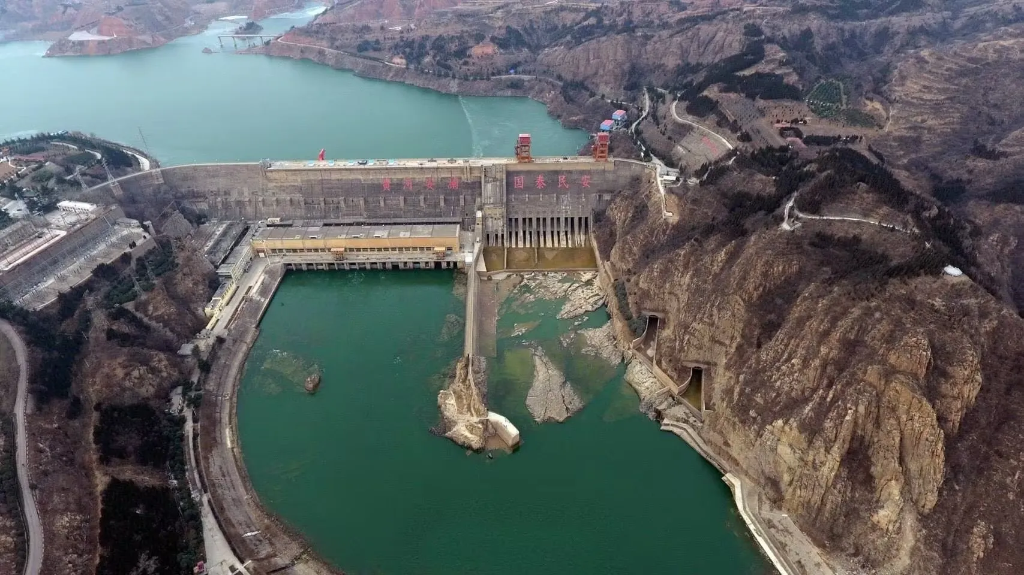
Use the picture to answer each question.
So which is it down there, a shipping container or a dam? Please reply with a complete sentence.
The one in the frame is a dam.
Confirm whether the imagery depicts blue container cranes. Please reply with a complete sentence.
No, I can't see a single blue container crane in this photo.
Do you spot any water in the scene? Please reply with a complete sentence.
Yes, some water is visible.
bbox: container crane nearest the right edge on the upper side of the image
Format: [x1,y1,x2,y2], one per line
[592,132,611,161]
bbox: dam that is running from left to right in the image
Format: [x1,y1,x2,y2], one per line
[74,154,660,248]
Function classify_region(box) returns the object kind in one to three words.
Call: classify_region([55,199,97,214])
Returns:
building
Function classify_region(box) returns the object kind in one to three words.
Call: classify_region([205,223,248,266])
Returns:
building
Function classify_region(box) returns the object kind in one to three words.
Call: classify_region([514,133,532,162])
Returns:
container crane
